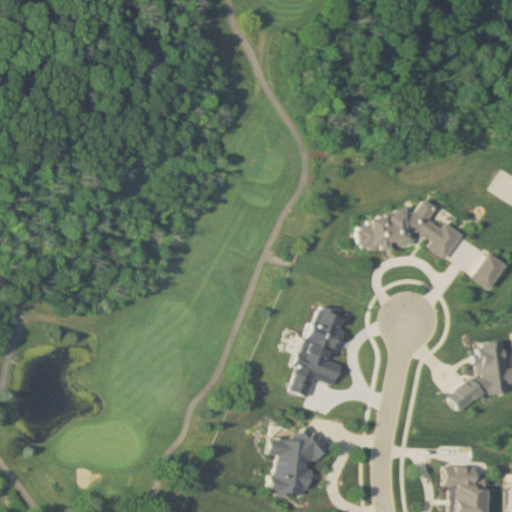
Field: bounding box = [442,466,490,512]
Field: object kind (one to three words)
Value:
house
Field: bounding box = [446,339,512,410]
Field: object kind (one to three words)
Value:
house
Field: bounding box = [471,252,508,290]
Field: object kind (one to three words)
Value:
building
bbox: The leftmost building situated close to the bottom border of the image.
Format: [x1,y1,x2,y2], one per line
[264,426,327,496]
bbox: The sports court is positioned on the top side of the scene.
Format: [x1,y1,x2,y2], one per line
[486,171,512,218]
